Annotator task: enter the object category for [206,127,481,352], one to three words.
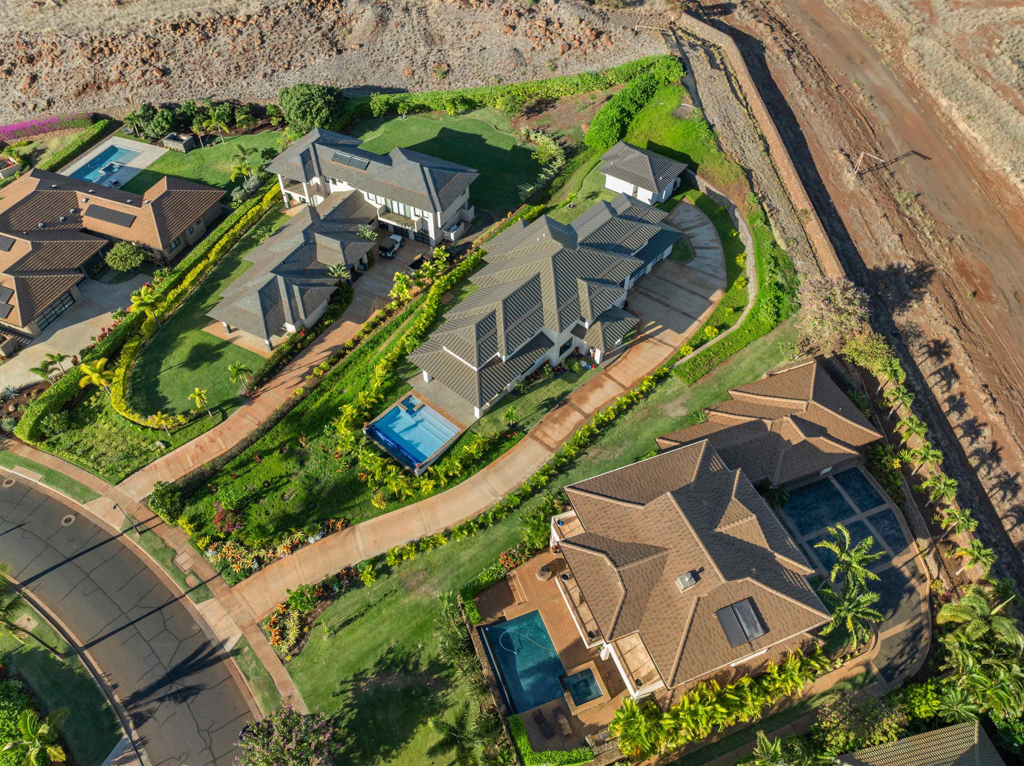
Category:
house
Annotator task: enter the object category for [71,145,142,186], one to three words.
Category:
swimming pool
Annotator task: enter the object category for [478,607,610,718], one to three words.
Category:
swimming pool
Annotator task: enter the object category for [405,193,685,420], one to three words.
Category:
house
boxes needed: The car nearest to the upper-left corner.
[377,236,404,257]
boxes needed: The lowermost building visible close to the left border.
[0,168,227,340]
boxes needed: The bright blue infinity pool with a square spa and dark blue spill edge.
[357,390,468,477]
